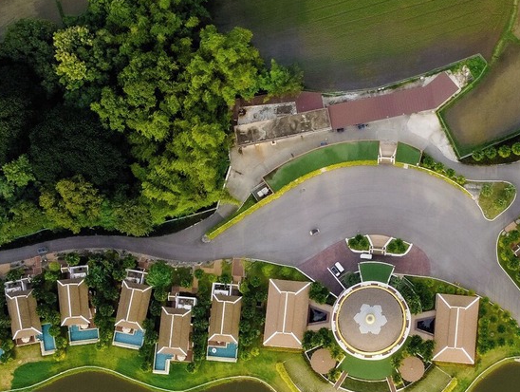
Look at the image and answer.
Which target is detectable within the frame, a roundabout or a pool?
pool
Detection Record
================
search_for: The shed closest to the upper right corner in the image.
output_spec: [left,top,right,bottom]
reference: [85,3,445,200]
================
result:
[328,71,459,131]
